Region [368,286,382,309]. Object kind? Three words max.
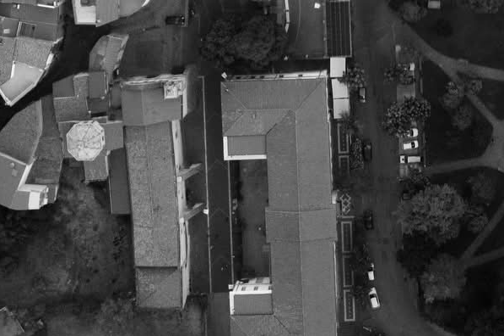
vehicle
